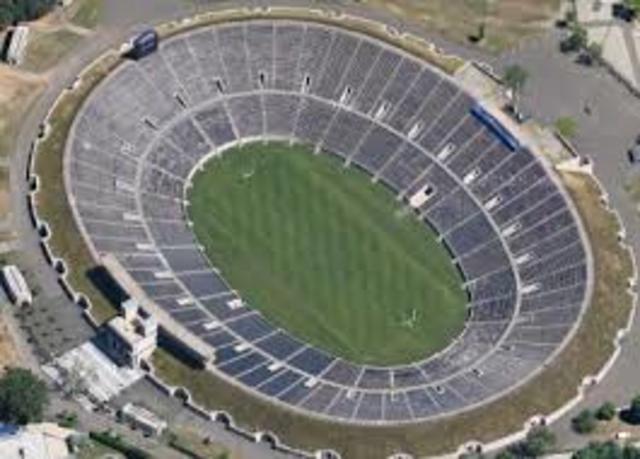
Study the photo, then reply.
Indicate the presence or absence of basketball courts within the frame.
No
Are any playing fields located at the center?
Yes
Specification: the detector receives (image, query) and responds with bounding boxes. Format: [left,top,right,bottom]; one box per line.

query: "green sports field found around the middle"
[184,139,471,368]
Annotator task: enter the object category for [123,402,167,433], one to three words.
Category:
shed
